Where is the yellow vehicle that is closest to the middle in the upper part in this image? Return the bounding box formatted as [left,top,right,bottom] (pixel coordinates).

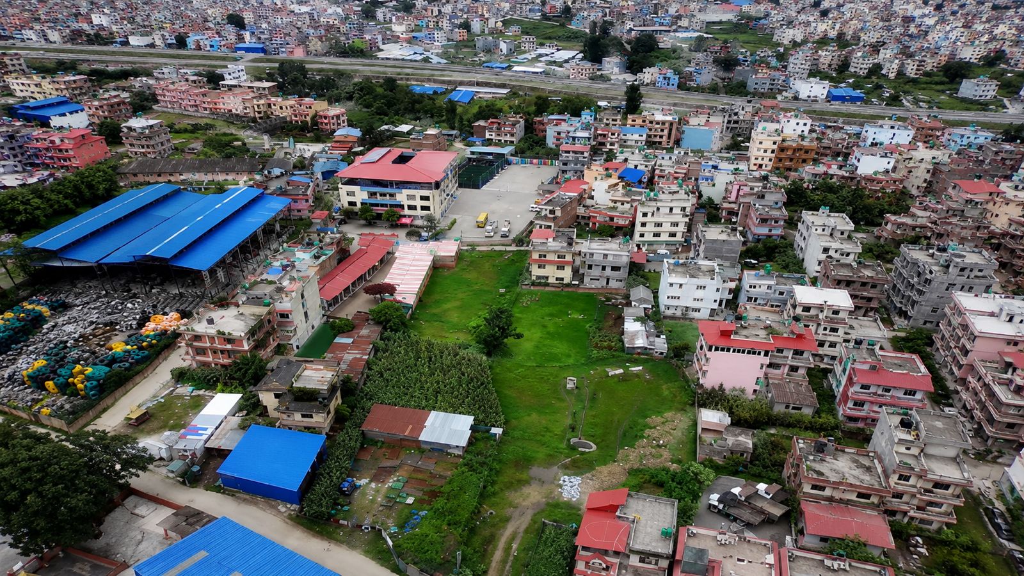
[475,211,488,230]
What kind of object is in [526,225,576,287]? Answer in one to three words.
house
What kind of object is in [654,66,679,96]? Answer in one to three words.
house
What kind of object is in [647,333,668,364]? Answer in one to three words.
shed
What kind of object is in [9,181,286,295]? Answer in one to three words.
shed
